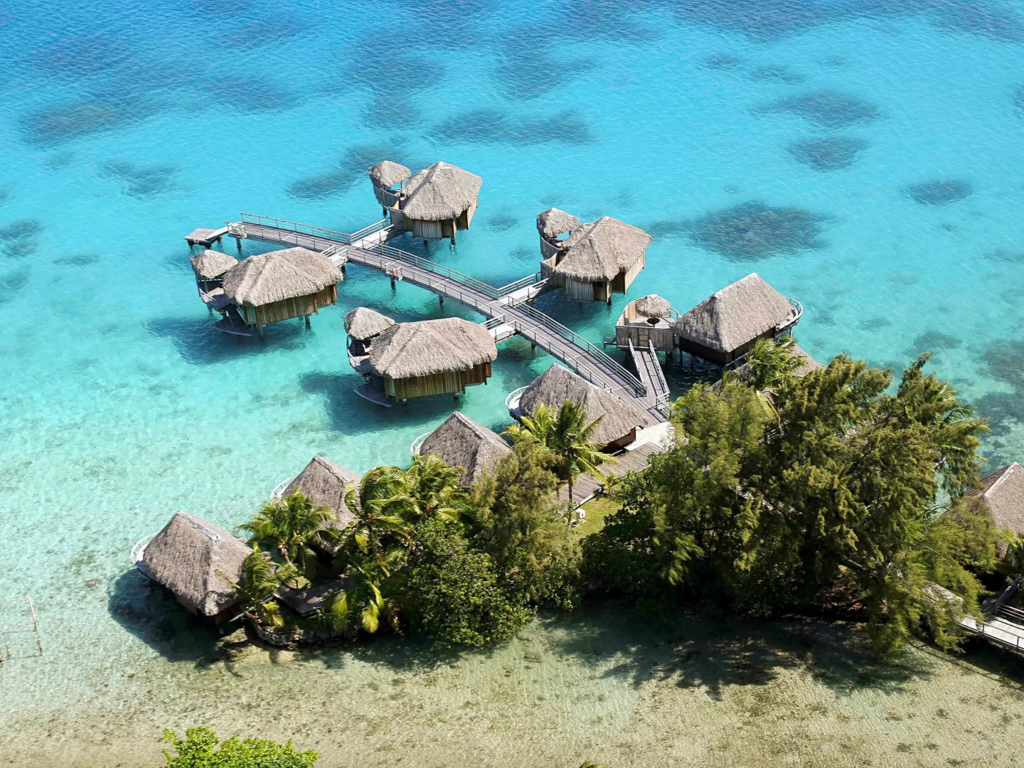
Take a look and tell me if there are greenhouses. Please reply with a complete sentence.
No, I can see no greenhouse in this picture.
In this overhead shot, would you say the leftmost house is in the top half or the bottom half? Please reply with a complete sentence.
Seen from above, the leftmost house lies in the bottom half of the view.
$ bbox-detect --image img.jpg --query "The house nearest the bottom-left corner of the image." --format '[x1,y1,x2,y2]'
[127,508,253,643]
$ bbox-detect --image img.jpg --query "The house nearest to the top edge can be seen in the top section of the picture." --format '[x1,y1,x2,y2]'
[365,160,483,260]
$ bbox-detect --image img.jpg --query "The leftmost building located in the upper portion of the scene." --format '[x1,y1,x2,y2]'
[187,245,343,337]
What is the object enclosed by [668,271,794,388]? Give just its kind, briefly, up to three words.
house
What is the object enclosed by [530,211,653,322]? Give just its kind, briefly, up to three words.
house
